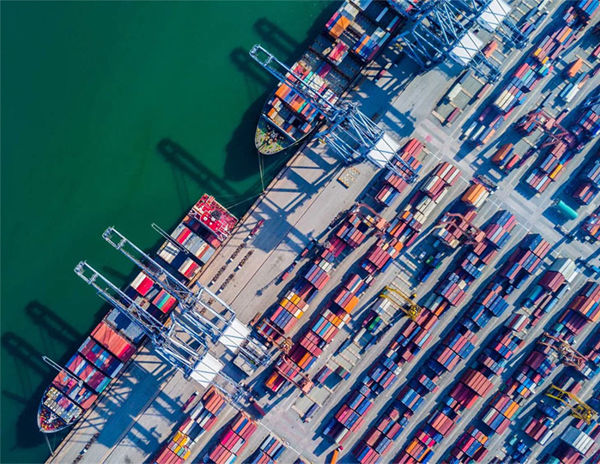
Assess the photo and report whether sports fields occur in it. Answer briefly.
No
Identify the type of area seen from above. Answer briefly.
port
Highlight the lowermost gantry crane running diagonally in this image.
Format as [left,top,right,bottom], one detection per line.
[542,382,599,429]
